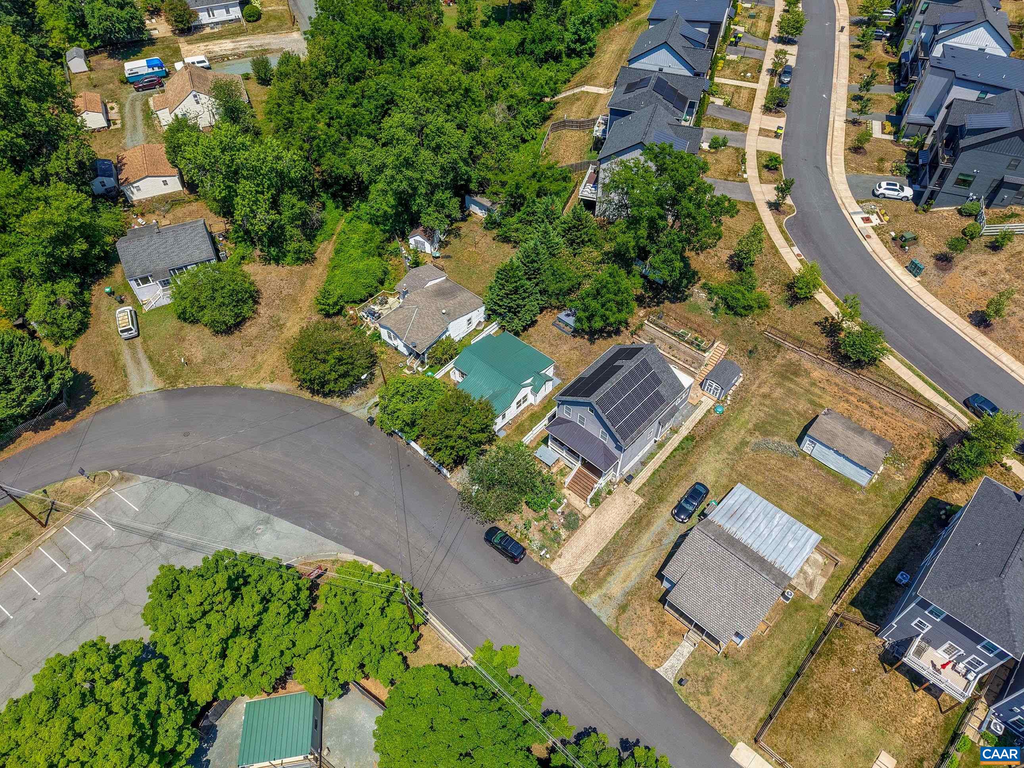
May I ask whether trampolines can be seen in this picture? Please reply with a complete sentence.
No, no trampoline can be seen from above.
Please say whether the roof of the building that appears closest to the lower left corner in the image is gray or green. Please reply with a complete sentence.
From above, the roof of the building that appears closest to the lower left corner appears green.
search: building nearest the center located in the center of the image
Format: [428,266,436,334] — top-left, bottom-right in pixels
[453,331,555,429]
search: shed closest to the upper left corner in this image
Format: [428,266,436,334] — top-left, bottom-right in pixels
[67,48,90,74]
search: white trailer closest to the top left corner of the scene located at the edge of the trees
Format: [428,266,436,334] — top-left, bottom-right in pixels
[124,57,169,80]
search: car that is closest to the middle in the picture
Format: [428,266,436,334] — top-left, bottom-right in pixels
[479,524,529,565]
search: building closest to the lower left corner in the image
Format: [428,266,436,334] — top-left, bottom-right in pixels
[238,691,322,768]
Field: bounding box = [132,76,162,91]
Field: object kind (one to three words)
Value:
car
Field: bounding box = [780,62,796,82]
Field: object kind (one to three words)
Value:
car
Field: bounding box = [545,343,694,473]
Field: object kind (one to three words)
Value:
house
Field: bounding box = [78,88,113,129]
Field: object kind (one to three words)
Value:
shed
